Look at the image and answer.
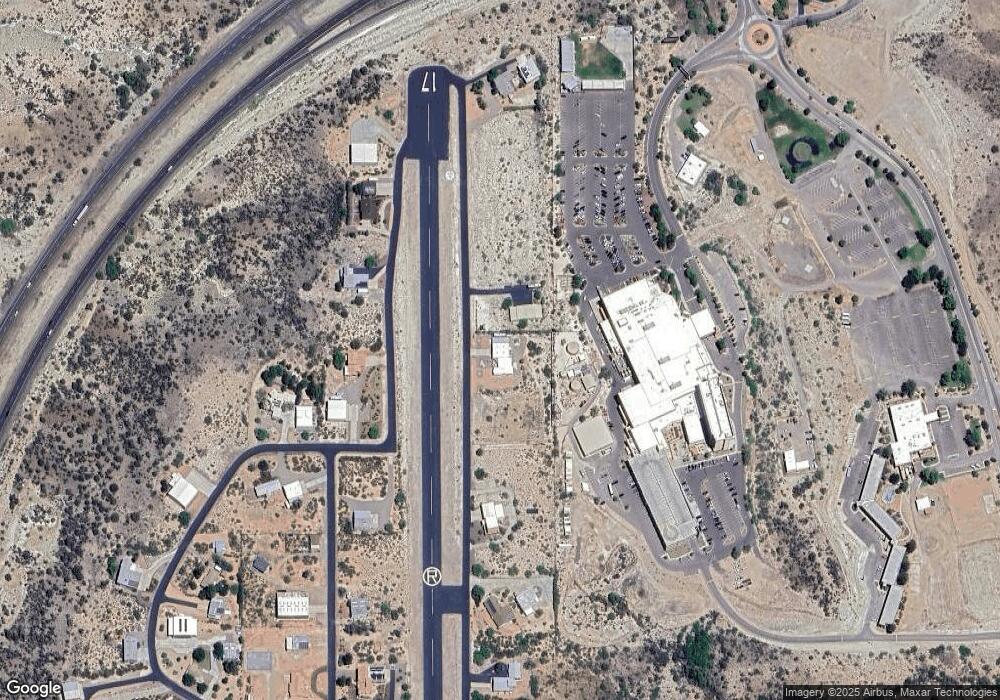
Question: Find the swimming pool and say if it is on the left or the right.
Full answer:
The swimming pool sits on the right side.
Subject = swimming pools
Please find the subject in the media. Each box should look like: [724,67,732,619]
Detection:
[879,482,899,504]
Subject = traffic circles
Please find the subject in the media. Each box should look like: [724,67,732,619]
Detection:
[739,15,782,59]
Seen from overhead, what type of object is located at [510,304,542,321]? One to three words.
hangar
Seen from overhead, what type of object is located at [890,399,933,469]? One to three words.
building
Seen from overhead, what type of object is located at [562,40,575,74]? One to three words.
barn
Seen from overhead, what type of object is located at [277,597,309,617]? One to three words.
house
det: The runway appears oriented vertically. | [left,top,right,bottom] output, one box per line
[395,63,473,700]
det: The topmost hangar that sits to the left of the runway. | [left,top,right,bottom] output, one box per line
[352,144,377,164]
